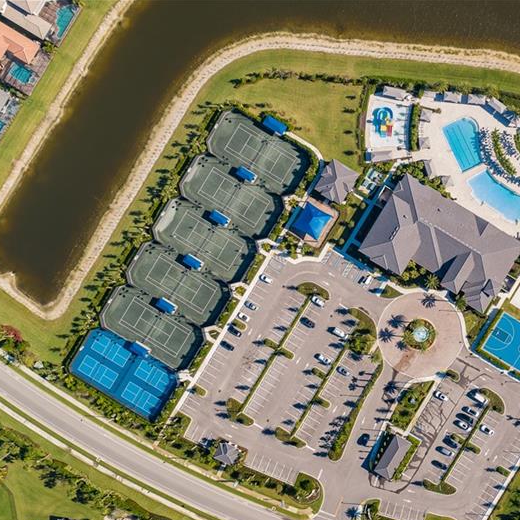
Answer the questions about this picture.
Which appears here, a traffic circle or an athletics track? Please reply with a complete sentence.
I can see a traffic circle in this picture.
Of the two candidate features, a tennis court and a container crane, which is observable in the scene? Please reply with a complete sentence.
The image shows a tennis court.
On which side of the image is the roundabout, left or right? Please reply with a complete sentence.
It is on the right.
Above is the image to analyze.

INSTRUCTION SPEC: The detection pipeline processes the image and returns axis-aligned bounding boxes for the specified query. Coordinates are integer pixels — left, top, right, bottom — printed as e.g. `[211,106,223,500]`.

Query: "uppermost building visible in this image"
[0,0,53,40]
